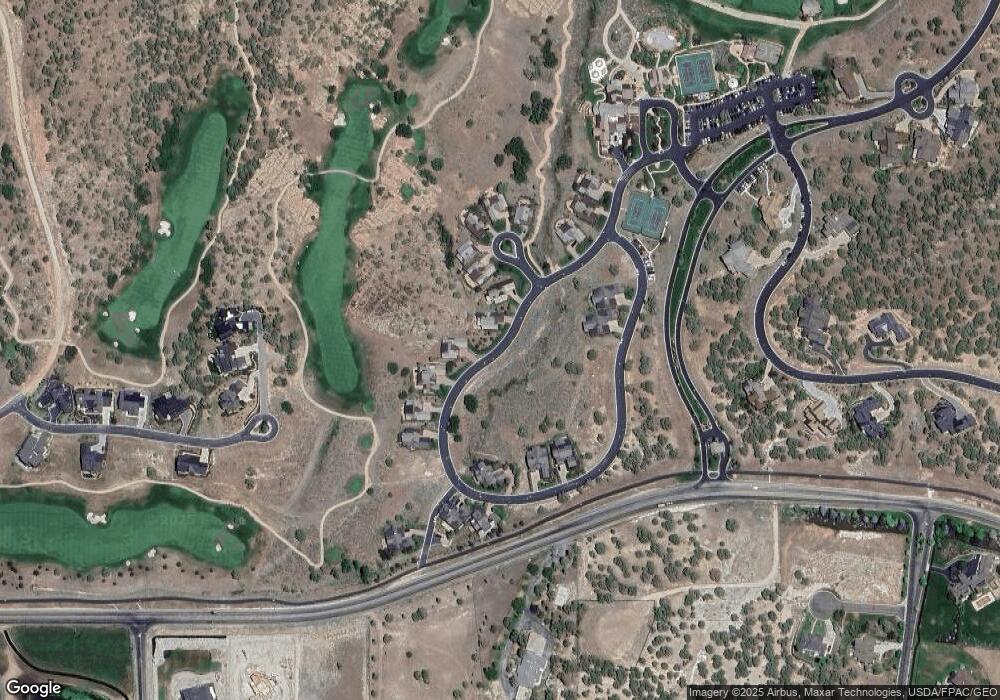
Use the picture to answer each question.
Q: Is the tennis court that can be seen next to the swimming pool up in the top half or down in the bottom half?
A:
top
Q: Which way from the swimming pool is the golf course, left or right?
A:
left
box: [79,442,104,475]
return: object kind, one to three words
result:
house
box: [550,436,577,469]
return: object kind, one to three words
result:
house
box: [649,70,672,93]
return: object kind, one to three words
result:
building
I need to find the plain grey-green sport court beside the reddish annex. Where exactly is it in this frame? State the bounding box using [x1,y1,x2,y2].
[756,40,784,64]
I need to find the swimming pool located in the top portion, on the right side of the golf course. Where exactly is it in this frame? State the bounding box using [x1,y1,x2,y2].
[643,26,681,51]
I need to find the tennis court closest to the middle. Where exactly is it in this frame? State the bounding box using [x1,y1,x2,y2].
[622,191,671,239]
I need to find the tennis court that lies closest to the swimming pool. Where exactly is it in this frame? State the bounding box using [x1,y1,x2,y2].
[676,51,717,95]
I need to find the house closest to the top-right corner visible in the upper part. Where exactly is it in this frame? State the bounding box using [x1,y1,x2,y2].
[949,77,979,108]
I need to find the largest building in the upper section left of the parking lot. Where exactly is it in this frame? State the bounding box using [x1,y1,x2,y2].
[594,79,640,153]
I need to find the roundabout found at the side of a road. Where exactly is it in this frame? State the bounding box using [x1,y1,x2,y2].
[894,72,936,119]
